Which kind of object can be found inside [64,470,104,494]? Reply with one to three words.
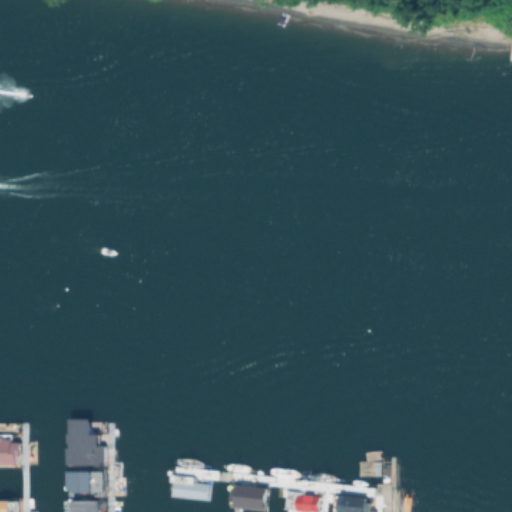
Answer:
house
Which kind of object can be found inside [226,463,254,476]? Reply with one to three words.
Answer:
boat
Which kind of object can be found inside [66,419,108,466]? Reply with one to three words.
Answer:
house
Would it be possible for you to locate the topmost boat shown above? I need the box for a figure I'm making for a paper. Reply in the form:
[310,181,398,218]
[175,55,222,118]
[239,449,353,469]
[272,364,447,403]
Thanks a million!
[277,12,290,28]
